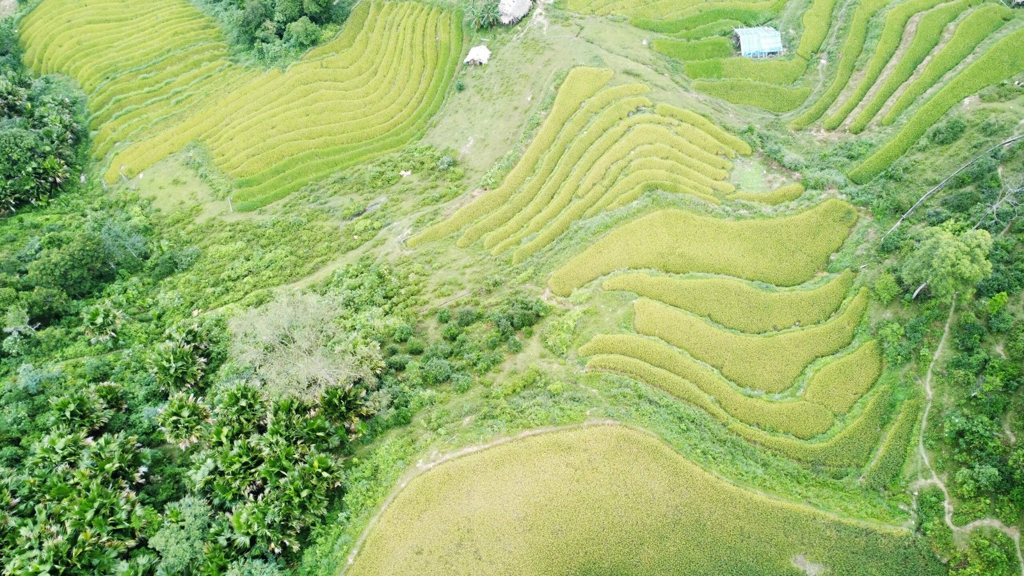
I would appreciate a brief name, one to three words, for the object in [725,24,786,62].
shed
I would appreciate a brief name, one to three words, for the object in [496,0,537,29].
building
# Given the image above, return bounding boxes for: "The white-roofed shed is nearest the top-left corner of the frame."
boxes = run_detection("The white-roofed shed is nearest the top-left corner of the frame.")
[461,47,495,71]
